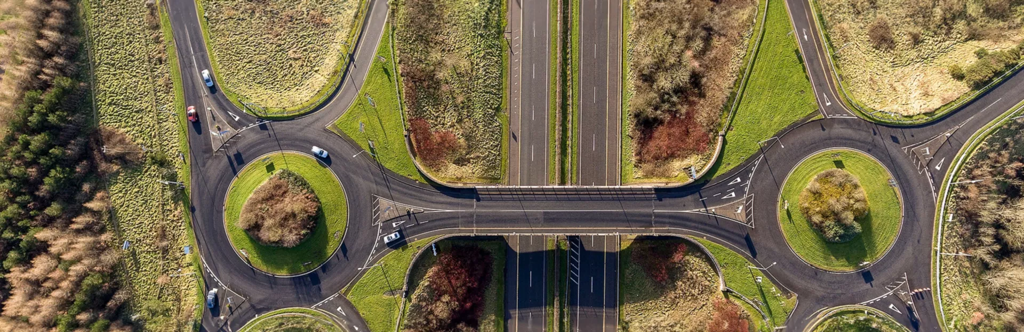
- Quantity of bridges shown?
one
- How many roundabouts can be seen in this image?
2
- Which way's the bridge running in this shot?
from side to side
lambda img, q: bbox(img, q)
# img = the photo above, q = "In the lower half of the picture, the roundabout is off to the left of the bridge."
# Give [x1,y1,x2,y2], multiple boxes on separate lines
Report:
[197,125,375,303]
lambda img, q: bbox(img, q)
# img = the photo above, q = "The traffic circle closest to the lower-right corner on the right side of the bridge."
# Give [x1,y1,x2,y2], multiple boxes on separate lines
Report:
[753,121,930,299]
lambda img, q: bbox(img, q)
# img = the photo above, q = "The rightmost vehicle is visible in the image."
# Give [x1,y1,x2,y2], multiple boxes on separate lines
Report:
[383,231,402,245]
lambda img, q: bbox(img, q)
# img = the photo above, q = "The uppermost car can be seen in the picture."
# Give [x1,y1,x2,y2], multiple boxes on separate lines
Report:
[199,69,215,88]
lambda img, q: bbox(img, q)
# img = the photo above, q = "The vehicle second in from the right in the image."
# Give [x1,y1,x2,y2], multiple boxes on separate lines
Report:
[310,146,330,159]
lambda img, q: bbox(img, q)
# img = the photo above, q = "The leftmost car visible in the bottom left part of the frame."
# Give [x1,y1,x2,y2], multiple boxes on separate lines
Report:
[206,289,218,308]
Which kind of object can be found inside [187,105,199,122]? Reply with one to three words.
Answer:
vehicle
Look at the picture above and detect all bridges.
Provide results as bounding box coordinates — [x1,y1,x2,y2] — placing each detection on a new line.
[473,184,659,237]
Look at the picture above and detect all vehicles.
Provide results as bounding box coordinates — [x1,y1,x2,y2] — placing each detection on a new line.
[187,105,199,122]
[383,231,402,245]
[310,146,330,159]
[206,289,218,308]
[199,69,215,88]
